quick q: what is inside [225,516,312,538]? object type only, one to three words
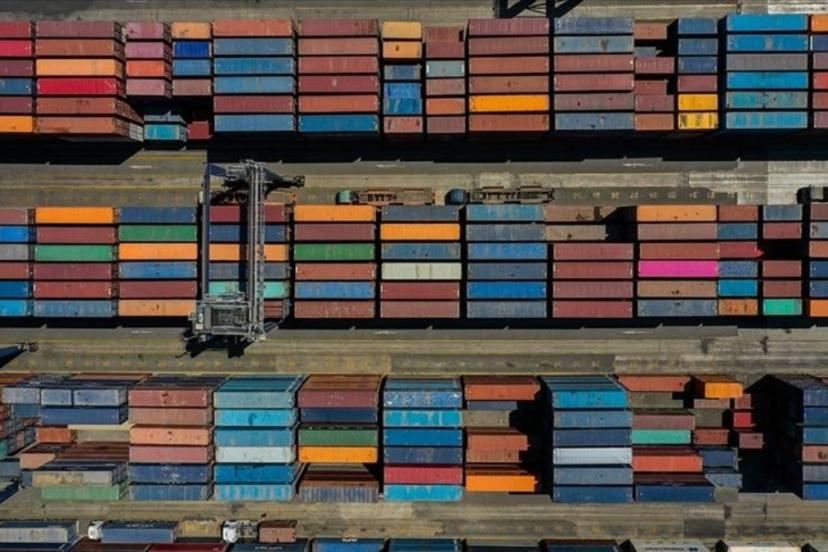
truck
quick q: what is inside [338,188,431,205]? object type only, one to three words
vehicle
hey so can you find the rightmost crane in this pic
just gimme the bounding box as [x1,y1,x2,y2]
[188,161,312,346]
